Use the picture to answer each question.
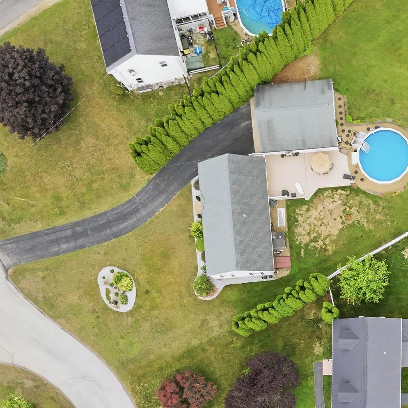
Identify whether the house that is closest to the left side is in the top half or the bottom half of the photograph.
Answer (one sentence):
The top half of the photo is where the house that is closest to the left side is.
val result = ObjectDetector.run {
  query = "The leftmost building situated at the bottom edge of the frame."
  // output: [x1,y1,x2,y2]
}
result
[331,316,402,408]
